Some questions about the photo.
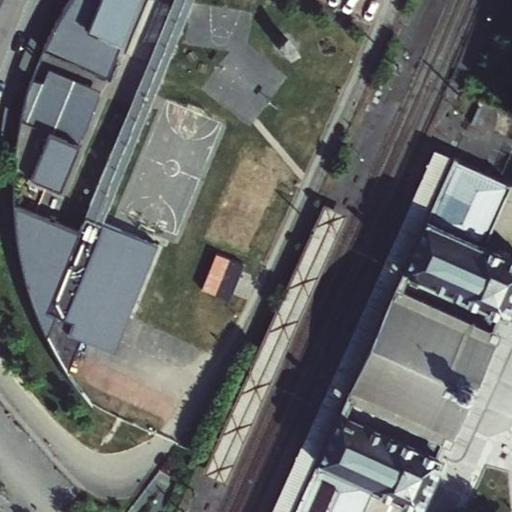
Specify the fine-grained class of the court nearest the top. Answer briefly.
basketball court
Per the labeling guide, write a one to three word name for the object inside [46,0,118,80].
building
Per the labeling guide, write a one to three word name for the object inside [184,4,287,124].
basketball court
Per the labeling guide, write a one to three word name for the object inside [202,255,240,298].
shed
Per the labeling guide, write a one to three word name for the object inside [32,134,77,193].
building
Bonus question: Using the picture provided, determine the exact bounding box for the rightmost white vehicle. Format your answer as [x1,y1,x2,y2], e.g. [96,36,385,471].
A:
[364,1,378,22]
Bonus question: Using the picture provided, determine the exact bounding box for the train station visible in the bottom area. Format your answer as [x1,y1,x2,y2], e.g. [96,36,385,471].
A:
[301,162,512,512]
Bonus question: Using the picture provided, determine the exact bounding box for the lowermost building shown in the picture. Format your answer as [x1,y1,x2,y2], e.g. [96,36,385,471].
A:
[131,470,170,512]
